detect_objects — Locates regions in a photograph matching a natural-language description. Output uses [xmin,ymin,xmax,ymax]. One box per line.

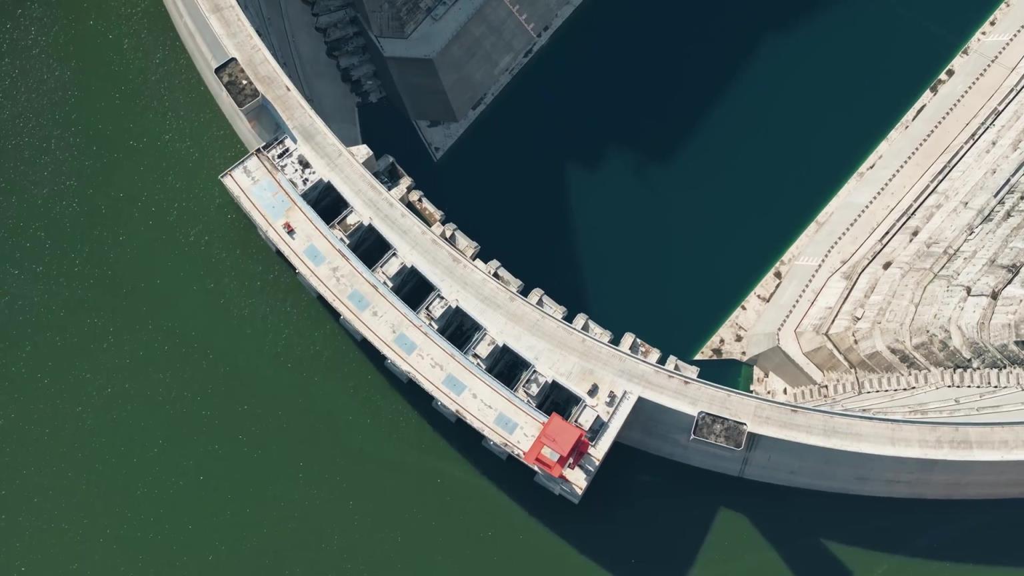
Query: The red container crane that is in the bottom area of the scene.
[523,411,592,477]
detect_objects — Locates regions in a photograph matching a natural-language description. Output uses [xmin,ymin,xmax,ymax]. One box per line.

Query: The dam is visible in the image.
[164,0,1024,507]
